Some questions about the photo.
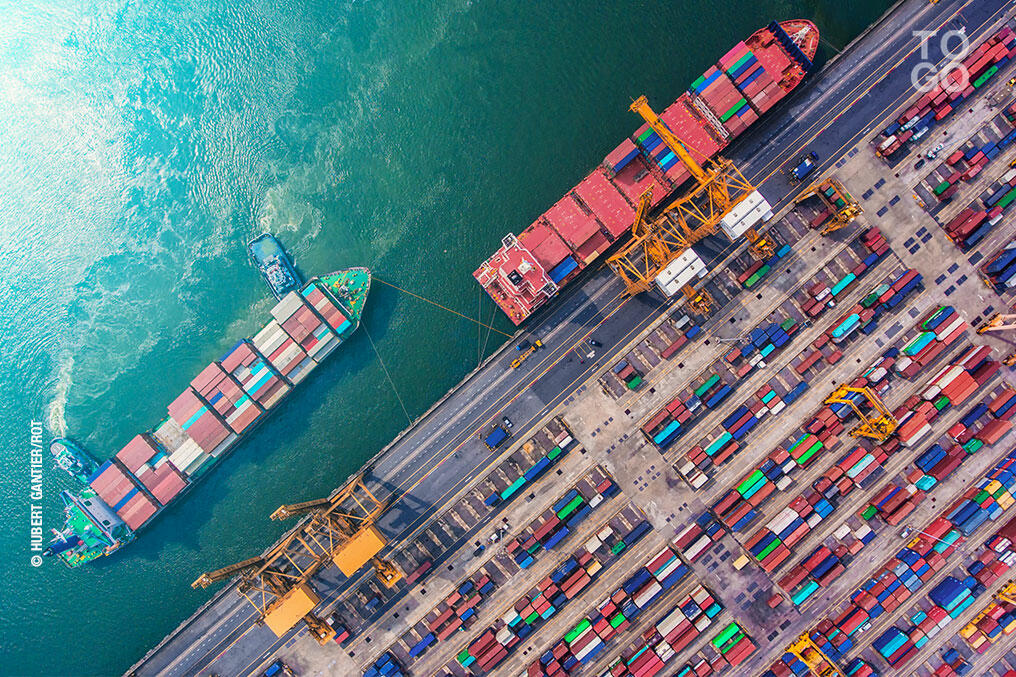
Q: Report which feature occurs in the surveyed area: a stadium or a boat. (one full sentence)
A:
It is a boat that can be seen here.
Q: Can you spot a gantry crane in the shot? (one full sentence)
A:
Yes, there is a gantry crane in the image.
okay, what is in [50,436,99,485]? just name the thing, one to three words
boat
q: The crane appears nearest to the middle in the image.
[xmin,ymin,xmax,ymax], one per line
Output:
[592,186,712,319]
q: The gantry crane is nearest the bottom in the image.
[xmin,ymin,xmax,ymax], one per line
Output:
[785,630,848,677]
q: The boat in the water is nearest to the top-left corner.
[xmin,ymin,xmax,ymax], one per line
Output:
[247,230,297,296]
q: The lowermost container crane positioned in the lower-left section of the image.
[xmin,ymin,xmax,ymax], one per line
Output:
[192,522,344,643]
